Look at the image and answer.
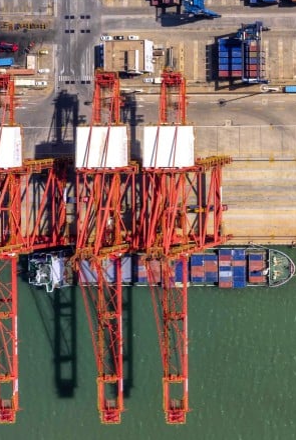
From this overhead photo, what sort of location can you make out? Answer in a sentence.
What you see here is a port.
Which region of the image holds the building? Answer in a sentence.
The building is located in the top region of the scene.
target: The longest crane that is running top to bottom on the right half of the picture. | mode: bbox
[141,68,236,425]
